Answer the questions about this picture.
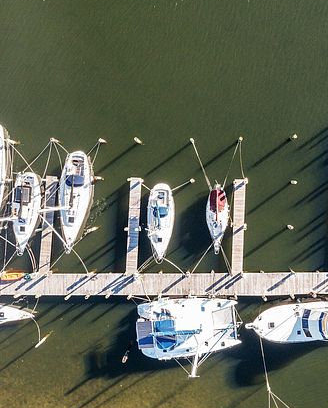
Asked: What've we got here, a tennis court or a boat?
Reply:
boat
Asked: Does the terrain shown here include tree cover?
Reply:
No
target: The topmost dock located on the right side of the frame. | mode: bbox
[231,179,249,272]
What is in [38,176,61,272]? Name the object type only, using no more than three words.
pier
